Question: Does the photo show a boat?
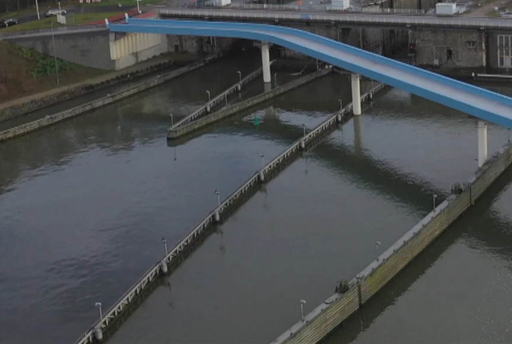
No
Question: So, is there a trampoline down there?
No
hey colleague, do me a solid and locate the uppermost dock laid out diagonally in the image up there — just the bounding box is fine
[166,56,281,126]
